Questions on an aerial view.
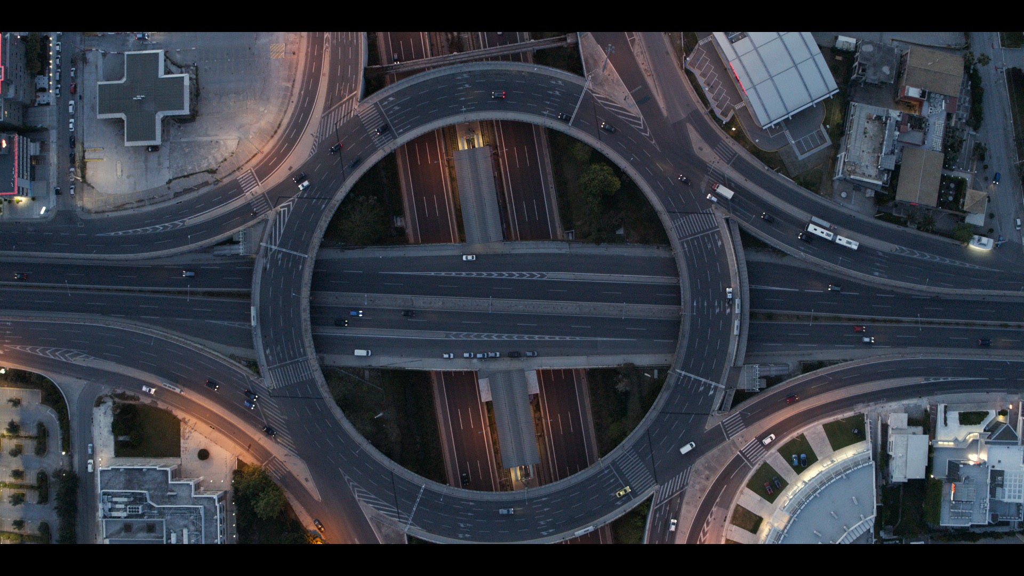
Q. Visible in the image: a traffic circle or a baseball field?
traffic circle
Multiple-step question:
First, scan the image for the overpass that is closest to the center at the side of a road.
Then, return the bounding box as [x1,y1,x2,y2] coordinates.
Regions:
[315,240,677,370]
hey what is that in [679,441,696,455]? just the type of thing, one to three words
vehicle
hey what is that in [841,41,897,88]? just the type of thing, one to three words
building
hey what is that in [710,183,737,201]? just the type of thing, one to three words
vehicle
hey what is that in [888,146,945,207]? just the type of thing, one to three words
house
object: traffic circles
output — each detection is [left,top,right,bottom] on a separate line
[252,61,738,550]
